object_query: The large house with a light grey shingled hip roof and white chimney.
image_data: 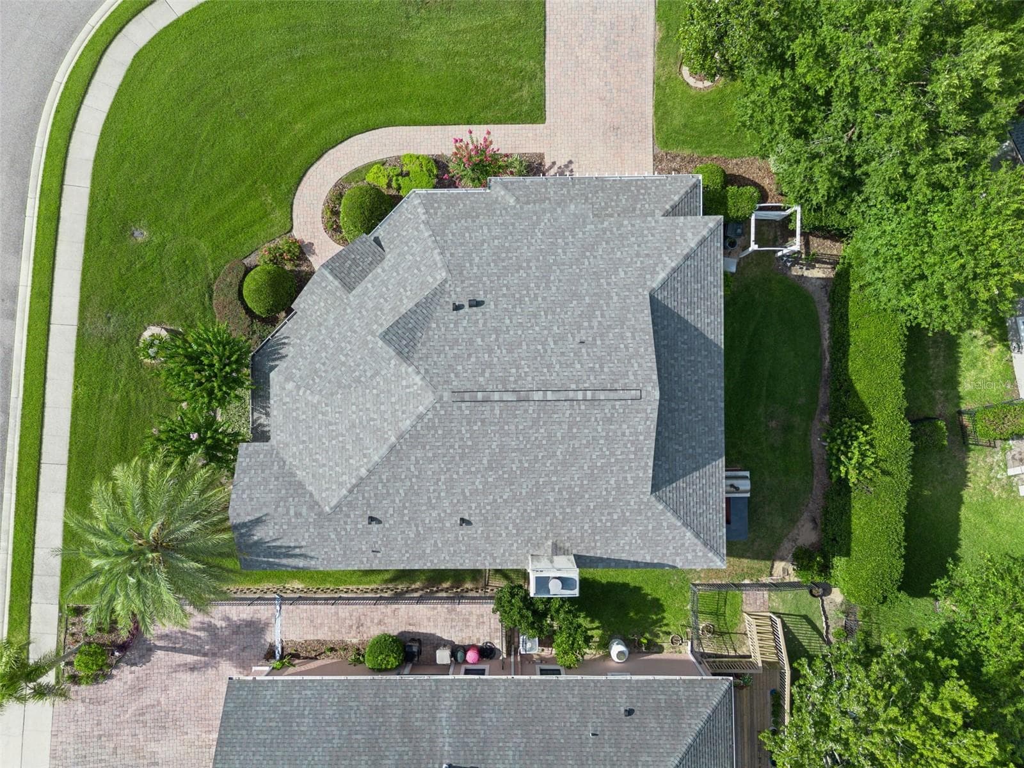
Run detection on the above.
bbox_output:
[229,172,727,597]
